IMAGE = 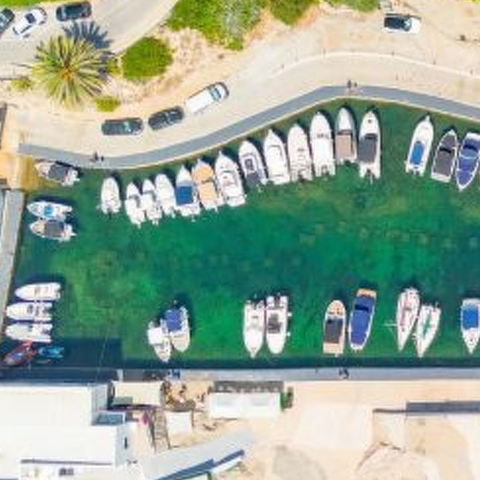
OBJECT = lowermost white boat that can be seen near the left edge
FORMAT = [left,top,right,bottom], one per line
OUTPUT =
[5,321,60,342]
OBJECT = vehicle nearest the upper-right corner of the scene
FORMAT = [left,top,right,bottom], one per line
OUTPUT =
[384,14,422,35]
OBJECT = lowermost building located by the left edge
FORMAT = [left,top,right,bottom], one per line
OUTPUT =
[0,378,140,480]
